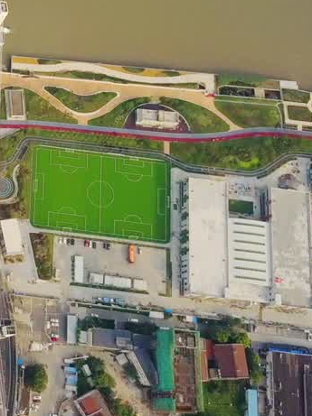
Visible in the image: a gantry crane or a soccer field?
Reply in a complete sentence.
Looking from above, you can make out a soccer field.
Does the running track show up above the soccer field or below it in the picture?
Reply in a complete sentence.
The running track is found above the soccer field in the photo.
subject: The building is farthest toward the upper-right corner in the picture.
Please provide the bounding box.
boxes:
[155,109,180,131]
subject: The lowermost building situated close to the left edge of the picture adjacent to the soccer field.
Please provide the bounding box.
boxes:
[0,219,26,257]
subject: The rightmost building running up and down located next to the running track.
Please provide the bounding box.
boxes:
[263,188,312,309]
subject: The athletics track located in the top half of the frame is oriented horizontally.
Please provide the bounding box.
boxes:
[0,121,312,142]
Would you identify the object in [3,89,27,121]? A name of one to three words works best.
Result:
building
